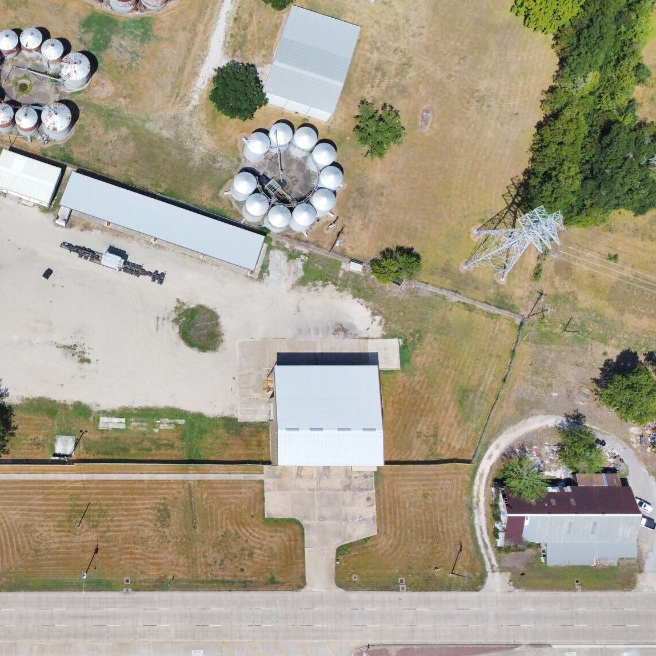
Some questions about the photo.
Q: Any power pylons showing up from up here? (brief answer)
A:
Yes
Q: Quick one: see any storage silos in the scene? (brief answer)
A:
Yes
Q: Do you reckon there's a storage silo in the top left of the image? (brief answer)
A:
Yes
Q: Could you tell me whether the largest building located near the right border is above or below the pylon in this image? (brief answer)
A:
below it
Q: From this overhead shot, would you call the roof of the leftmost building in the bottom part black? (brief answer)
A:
No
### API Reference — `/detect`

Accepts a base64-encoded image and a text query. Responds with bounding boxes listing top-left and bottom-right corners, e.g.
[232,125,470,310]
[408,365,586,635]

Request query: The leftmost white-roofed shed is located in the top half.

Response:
[0,150,62,208]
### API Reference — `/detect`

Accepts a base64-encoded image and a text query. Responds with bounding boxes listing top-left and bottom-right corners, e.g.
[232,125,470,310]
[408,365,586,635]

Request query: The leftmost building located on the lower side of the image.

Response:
[270,366,385,474]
